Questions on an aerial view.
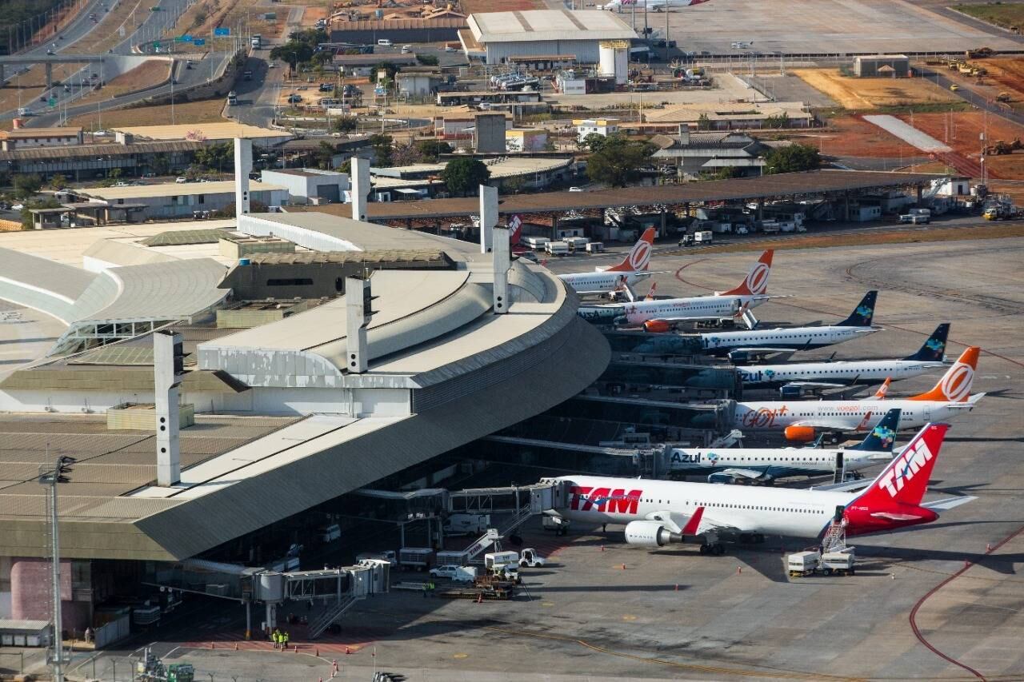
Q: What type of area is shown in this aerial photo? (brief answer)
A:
airport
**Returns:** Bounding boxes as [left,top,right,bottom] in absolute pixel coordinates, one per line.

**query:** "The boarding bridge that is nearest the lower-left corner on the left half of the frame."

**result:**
[168,556,398,637]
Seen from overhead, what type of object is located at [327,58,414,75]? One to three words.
building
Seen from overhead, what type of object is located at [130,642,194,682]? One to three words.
work vehicle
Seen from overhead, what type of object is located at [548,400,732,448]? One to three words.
jet bridge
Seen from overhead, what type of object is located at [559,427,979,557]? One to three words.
airplane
